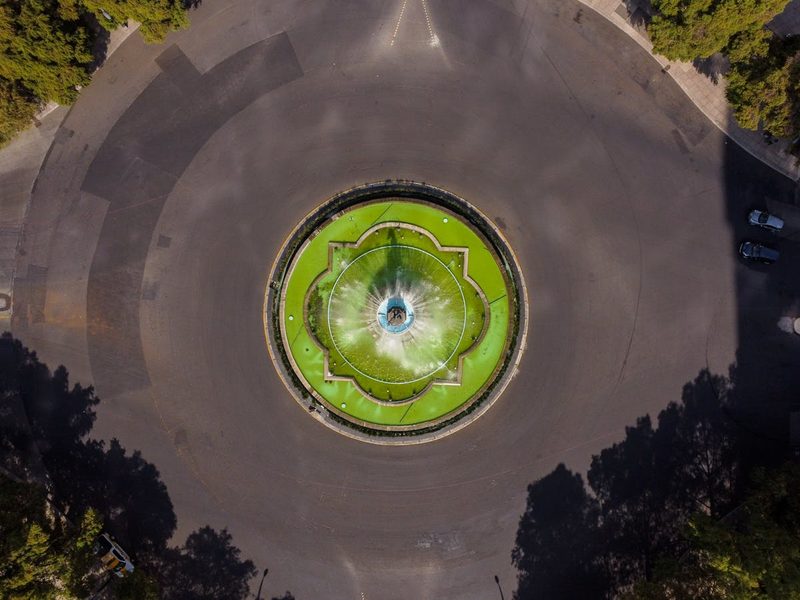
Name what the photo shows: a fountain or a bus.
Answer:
fountain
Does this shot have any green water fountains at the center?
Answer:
Yes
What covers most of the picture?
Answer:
paved ground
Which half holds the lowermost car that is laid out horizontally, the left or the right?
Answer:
right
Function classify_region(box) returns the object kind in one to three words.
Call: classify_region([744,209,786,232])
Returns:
car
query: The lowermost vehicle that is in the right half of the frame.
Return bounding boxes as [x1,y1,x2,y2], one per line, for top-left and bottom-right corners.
[737,241,780,262]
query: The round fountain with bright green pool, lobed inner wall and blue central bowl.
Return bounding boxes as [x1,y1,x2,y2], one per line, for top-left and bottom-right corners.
[278,198,512,428]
